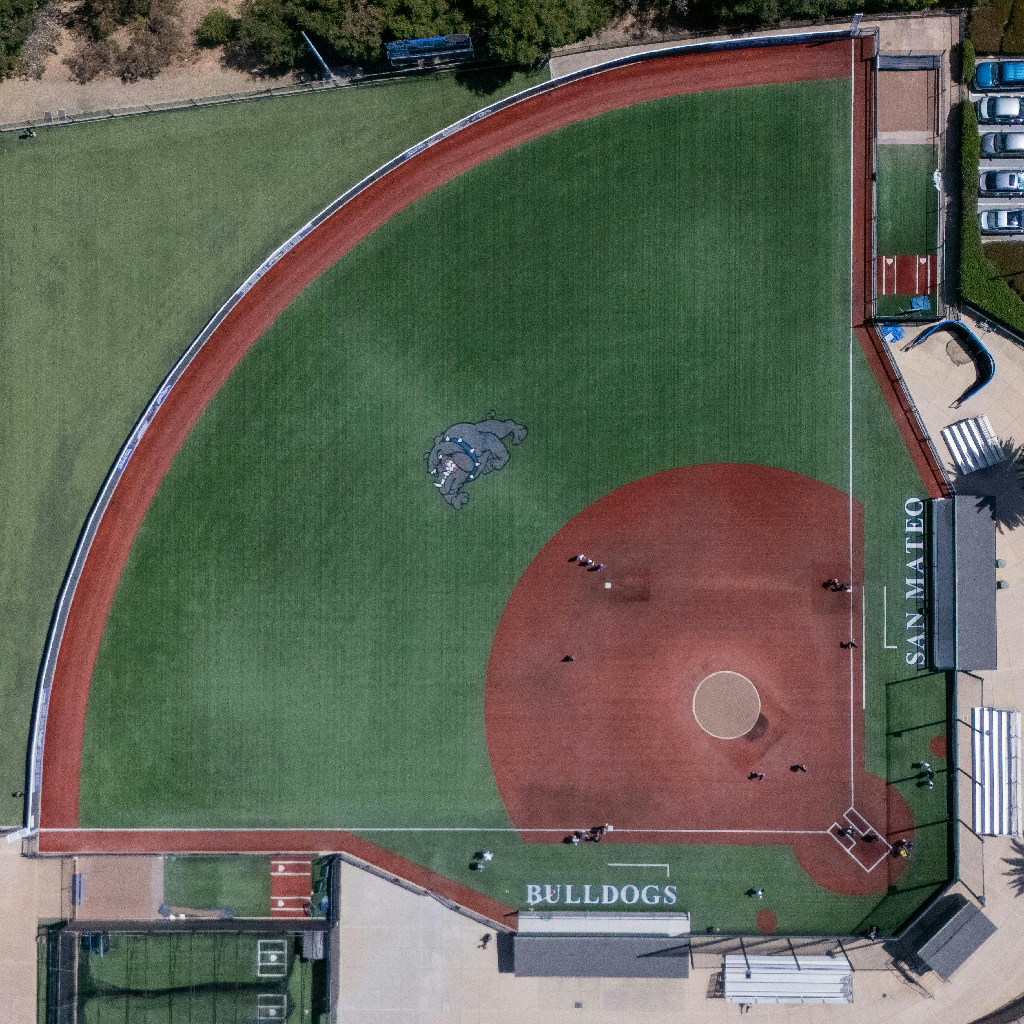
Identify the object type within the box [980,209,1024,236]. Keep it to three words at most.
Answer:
car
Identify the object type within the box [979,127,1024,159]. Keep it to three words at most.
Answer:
car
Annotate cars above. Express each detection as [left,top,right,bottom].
[976,91,1024,124]
[979,127,1024,159]
[979,169,1024,197]
[974,56,1024,92]
[980,209,1024,236]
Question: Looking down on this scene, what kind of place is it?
sports ground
